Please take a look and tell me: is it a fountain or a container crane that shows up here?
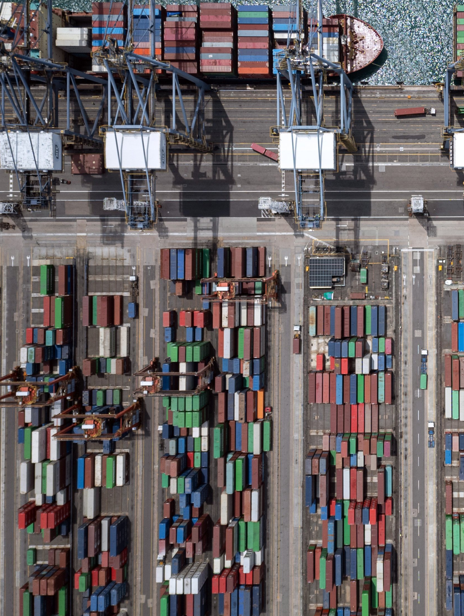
container crane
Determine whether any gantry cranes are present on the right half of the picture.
Yes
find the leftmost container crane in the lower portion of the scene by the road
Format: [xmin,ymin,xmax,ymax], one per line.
[0,369,71,409]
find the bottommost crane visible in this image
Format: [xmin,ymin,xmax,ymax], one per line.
[49,400,137,442]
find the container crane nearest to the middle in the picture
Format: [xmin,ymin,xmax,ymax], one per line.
[200,270,278,304]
